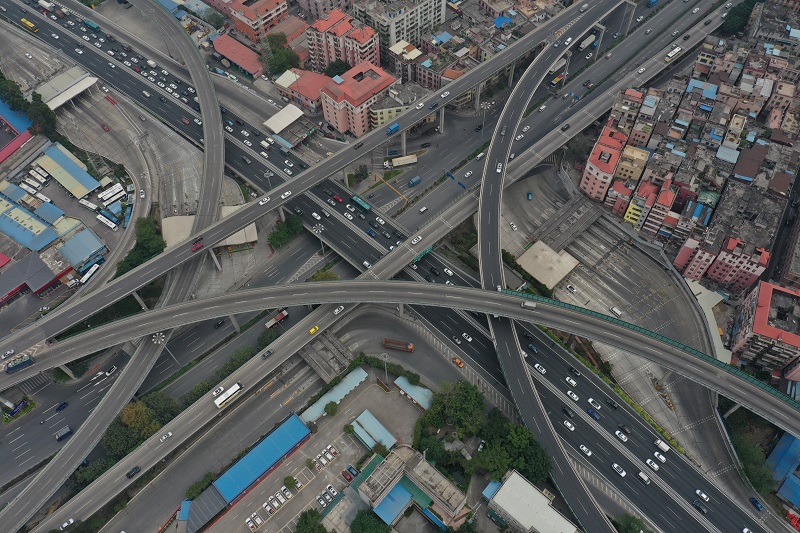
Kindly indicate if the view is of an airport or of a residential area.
residential area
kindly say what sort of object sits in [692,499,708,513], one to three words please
car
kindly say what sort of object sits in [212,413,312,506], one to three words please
building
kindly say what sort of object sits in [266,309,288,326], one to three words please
vehicle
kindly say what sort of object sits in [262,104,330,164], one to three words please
toll station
